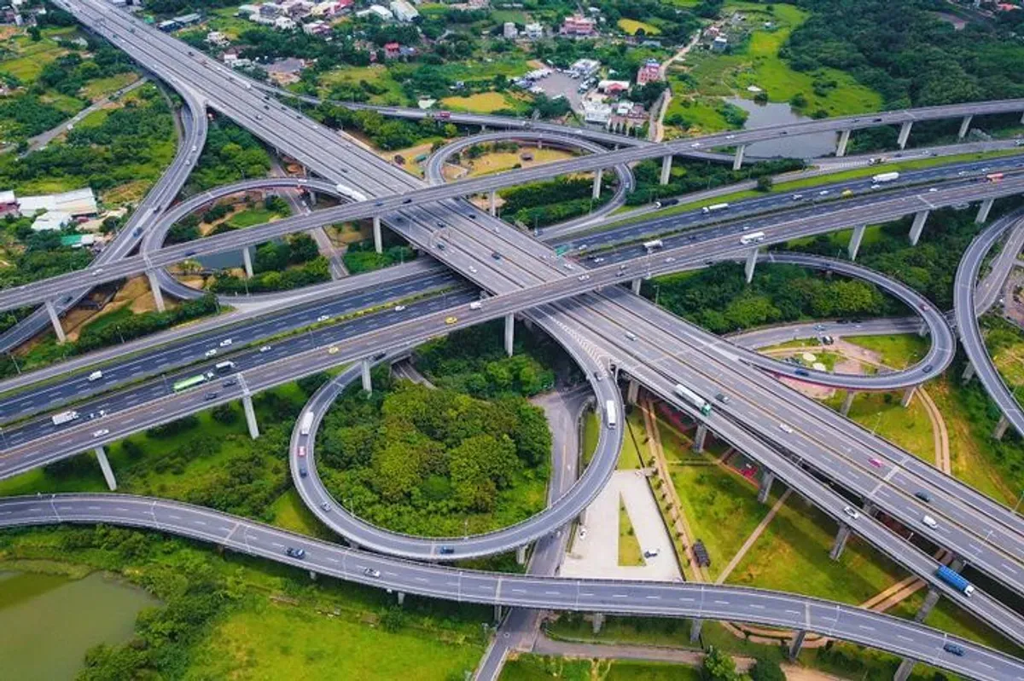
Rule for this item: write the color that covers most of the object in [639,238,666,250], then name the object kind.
white vehicle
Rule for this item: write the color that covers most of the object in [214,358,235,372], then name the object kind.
white vehicle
